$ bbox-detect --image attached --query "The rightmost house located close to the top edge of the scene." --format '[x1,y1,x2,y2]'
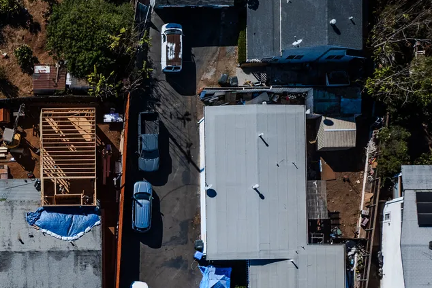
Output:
[244,0,364,88]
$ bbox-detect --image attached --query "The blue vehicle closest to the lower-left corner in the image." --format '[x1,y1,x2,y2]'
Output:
[131,180,156,233]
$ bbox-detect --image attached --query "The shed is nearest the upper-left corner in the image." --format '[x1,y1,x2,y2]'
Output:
[32,65,66,95]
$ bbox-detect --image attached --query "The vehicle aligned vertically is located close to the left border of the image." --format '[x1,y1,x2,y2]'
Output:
[4,103,27,156]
